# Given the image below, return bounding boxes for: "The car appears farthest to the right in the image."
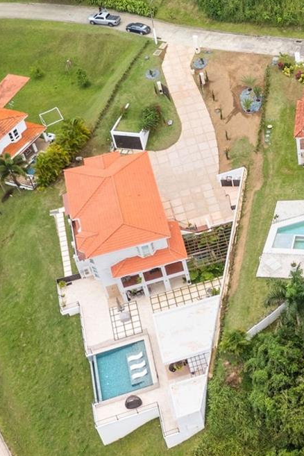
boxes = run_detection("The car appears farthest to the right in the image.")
[124,21,150,34]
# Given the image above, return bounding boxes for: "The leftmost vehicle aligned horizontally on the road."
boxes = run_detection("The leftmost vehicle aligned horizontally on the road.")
[88,10,119,25]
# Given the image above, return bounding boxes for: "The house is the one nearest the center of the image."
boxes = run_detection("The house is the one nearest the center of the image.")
[66,149,192,304]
